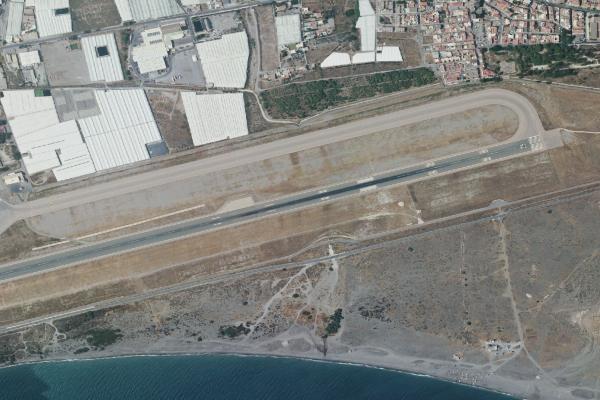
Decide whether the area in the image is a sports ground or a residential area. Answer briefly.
residential area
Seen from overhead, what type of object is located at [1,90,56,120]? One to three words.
greenhouse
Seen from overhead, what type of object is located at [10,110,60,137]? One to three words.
greenhouse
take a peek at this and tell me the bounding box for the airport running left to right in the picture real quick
[0,89,564,283]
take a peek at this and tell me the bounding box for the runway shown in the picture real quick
[0,133,547,283]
